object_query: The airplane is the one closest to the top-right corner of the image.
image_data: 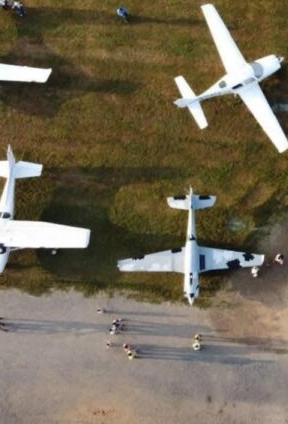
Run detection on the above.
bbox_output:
[171,4,287,152]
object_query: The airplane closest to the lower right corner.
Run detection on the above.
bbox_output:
[118,184,263,306]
